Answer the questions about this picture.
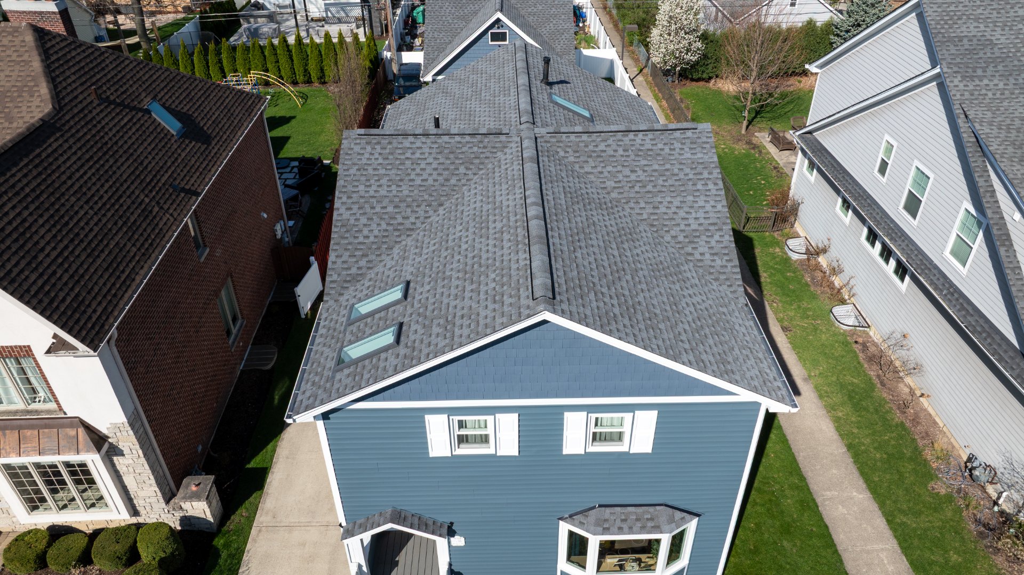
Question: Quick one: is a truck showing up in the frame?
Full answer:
No, no truck is visible in the view.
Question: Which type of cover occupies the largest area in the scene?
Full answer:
The bulk of the photo consists of buildings.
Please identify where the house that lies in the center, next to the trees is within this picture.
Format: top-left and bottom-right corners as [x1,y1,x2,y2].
[285,37,803,575]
